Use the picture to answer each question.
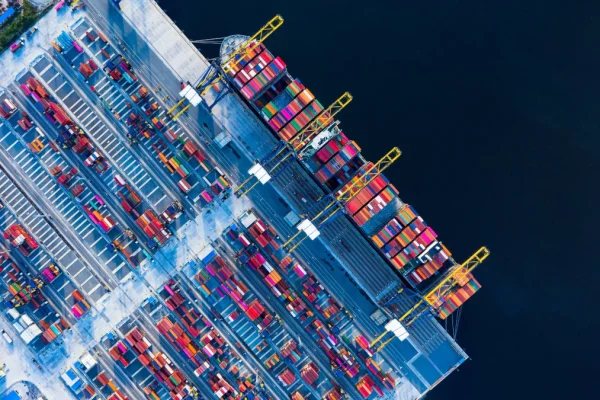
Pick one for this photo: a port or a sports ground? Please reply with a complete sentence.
This looks like a port.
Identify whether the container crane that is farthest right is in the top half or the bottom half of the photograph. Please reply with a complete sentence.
Seen from above, the container crane that is farthest right lies in the bottom half of the view.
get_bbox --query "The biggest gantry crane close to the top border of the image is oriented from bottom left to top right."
[166,13,287,121]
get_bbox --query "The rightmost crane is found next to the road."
[370,244,491,351]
